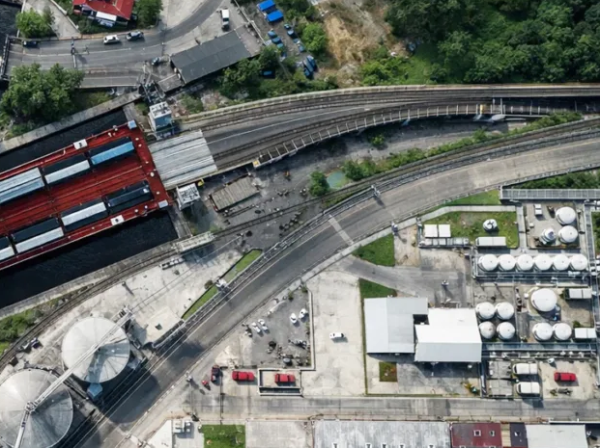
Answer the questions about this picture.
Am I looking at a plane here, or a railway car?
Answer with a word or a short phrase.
railway car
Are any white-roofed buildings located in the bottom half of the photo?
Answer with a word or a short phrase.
Yes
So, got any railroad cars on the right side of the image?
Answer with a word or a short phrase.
No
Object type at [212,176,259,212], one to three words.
shed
